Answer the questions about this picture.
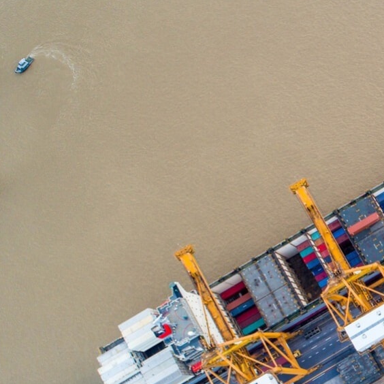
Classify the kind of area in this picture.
port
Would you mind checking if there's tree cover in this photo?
No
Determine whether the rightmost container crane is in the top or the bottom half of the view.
bottom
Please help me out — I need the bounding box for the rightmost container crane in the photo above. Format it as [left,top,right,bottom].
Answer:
[288,178,384,366]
